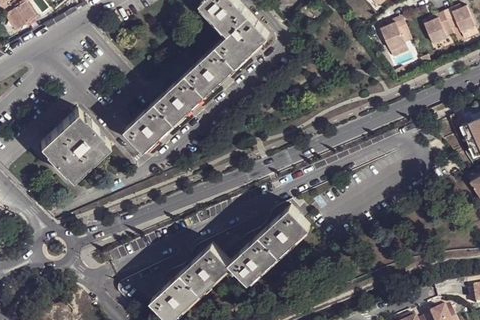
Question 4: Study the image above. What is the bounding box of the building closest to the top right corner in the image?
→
[452,4,479,40]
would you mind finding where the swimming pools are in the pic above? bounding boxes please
[32,0,49,12]
[394,52,414,64]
